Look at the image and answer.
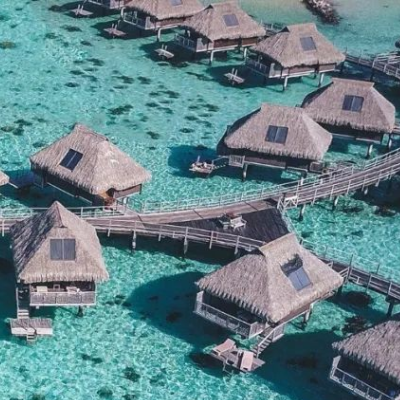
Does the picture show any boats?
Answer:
No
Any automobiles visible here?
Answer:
No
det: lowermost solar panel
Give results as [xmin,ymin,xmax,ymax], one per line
[284,264,310,293]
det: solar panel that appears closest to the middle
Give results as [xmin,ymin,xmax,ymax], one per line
[264,124,288,144]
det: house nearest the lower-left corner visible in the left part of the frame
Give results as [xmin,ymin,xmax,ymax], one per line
[10,202,109,338]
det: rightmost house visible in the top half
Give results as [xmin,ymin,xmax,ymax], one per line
[302,78,395,152]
